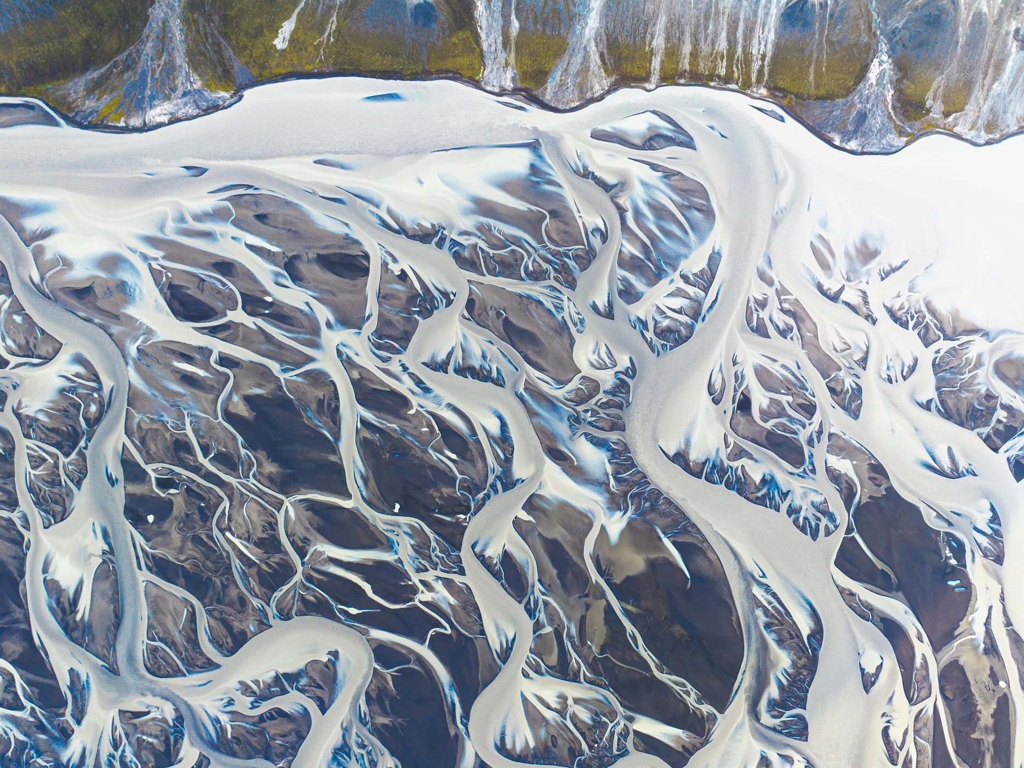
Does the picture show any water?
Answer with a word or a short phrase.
Yes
